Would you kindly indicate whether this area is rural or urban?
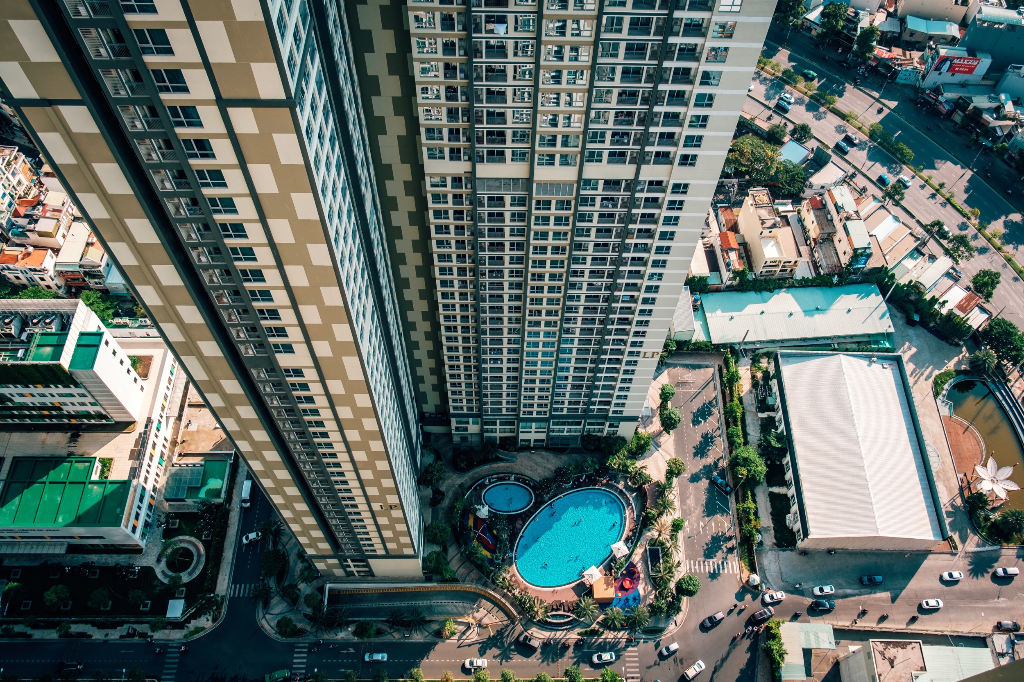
urban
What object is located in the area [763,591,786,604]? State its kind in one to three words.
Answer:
vehicle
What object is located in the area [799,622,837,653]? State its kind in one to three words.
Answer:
shed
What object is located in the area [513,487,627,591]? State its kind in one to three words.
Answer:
swimming pool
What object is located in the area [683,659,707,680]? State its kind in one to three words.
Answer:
car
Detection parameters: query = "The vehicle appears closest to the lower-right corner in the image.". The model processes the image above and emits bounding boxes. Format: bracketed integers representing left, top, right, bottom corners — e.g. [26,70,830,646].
[996,620,1023,632]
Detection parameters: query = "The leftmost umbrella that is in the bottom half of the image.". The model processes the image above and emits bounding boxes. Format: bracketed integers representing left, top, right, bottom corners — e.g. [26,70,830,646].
[475,505,488,519]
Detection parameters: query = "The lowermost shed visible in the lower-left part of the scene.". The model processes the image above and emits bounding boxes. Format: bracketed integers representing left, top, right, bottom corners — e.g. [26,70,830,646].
[167,599,189,620]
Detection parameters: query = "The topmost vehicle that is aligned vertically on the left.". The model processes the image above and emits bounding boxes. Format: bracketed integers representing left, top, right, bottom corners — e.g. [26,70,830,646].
[240,479,253,507]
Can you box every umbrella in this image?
[475,505,488,519]
[748,574,760,586]
[611,541,629,559]
[582,565,602,584]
